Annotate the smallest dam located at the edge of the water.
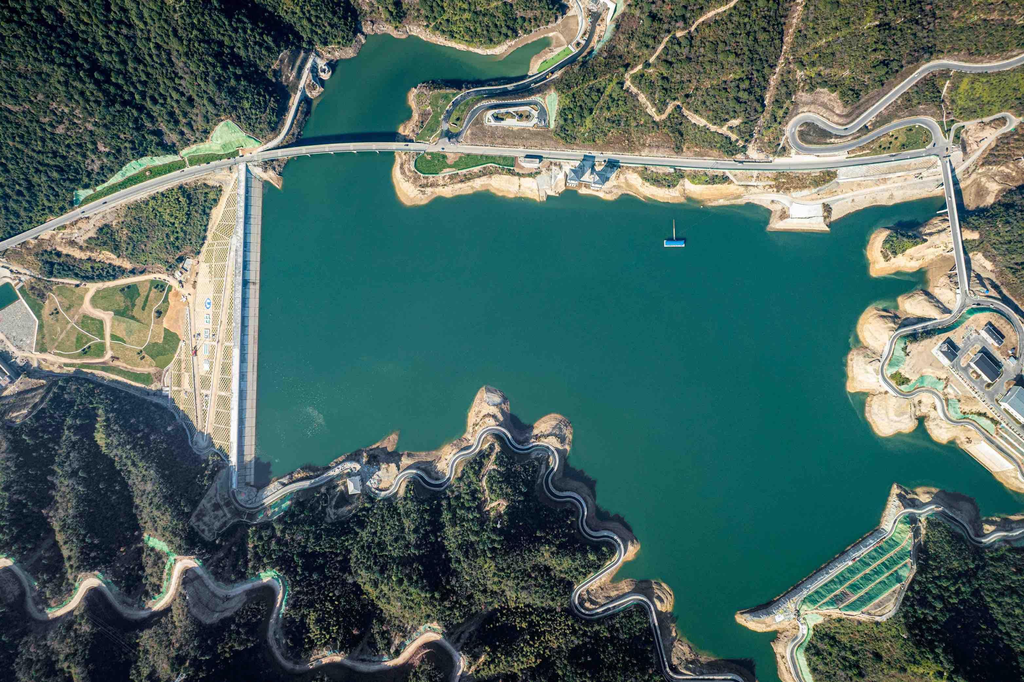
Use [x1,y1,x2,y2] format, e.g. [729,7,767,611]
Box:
[743,515,912,618]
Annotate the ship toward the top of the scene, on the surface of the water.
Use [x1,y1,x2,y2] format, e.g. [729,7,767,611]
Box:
[664,220,685,246]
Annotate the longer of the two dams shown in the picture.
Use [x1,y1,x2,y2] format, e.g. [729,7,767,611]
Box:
[171,165,263,489]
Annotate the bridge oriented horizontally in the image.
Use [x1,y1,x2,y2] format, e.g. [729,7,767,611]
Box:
[238,141,427,166]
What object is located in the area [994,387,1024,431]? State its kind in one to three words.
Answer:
building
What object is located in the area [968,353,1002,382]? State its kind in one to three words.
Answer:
building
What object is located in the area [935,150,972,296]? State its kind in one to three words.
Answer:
bridge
